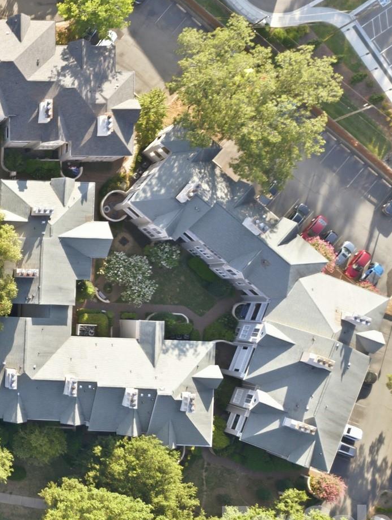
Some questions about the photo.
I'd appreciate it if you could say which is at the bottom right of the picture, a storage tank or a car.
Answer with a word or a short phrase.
car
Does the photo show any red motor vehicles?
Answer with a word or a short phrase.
Yes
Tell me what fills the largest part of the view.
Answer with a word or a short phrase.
buildings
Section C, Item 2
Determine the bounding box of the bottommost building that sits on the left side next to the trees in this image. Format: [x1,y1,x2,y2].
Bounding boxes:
[0,175,227,449]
